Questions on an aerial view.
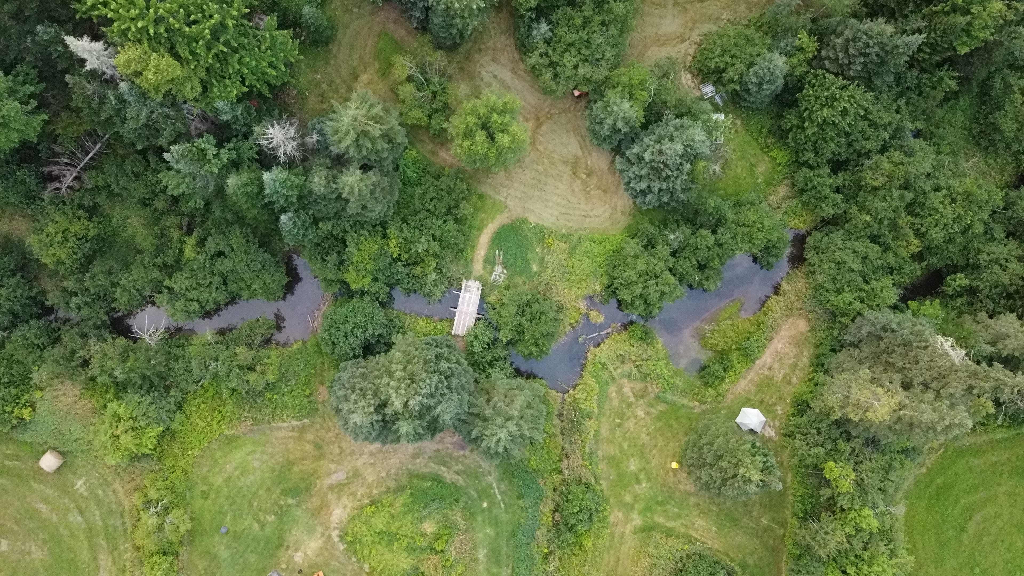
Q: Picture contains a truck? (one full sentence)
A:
No, there isn't any truck down there.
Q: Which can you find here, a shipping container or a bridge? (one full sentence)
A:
Visible in the photo is a bridge.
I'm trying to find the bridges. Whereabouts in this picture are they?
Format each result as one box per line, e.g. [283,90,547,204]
[448,277,485,340]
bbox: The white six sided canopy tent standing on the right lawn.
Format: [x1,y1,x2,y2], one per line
[729,404,766,434]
